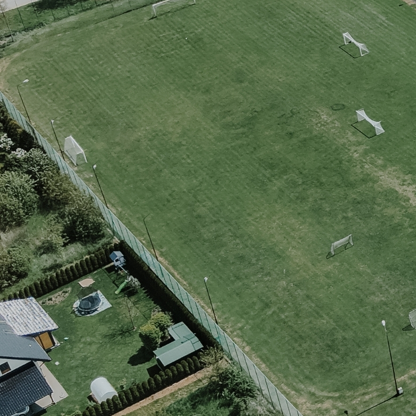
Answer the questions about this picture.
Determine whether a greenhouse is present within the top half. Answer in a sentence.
No, I see no greenhouse within the top half.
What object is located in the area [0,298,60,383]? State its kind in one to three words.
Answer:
house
